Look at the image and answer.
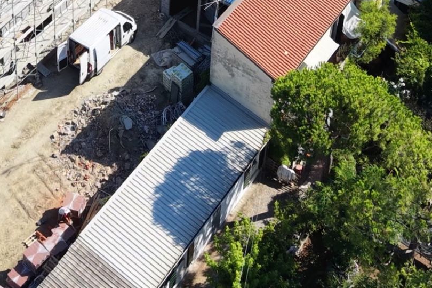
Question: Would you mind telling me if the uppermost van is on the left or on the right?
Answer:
left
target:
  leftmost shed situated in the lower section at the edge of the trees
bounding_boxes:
[36,84,273,288]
